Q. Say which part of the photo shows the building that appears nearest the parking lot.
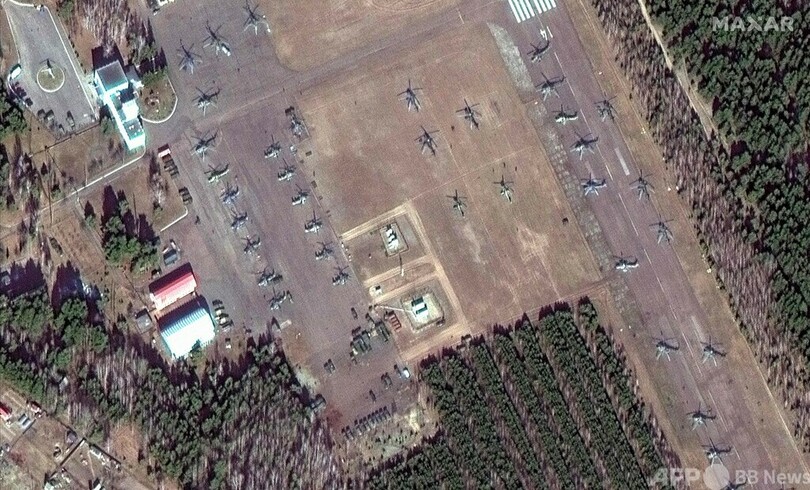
top left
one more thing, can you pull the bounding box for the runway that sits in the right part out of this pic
[502,0,787,490]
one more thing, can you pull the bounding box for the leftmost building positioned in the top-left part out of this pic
[96,59,146,151]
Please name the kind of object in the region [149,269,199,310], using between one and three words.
building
